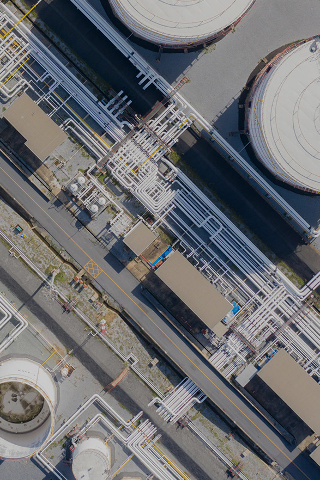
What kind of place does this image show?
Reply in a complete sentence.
It's an industrial area.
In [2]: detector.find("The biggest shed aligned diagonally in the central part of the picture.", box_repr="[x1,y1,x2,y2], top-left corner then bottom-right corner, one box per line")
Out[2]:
[147,247,234,332]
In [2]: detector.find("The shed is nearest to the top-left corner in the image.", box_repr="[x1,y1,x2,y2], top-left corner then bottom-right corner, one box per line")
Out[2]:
[0,93,68,169]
